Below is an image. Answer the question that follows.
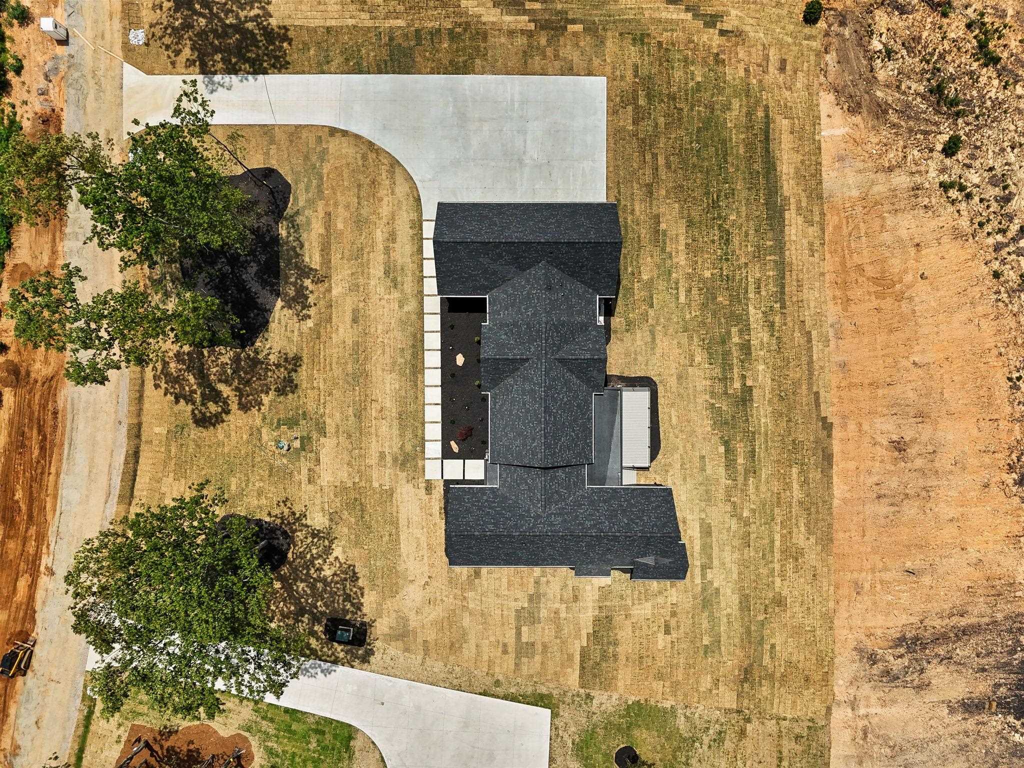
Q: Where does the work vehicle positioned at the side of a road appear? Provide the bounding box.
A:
[0,634,37,682]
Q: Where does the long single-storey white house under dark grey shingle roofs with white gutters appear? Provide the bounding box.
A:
[433,201,689,581]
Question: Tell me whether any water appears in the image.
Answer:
No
